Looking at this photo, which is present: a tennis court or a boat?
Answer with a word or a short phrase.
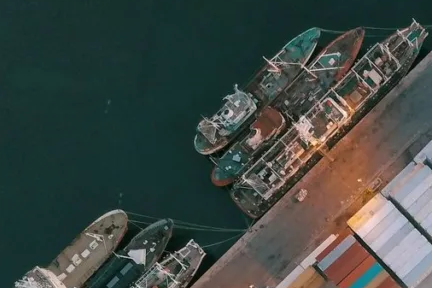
boat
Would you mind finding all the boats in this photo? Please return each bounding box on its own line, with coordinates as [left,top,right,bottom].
[128,239,211,288]
[205,25,366,194]
[193,26,322,158]
[13,208,134,288]
[225,18,425,222]
[86,218,178,288]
